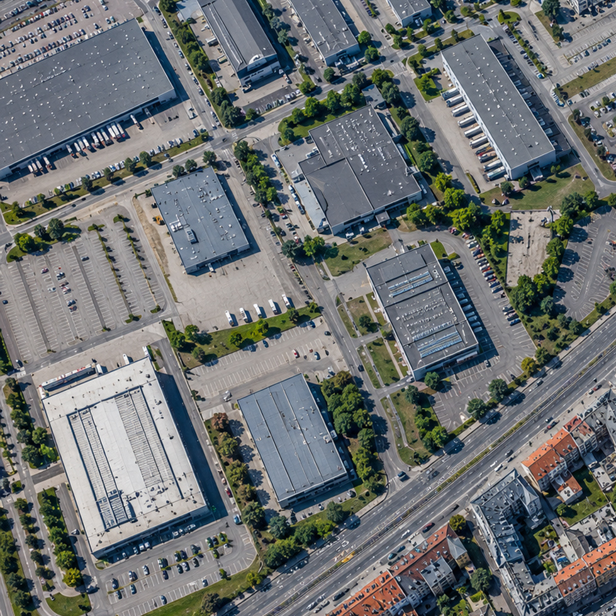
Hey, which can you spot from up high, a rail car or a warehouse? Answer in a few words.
warehouse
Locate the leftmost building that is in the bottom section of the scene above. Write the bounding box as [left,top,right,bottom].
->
[41,356,210,562]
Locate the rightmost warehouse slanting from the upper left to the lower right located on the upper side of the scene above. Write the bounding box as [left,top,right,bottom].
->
[441,33,555,179]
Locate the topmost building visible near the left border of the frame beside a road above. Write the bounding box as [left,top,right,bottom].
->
[0,18,177,182]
